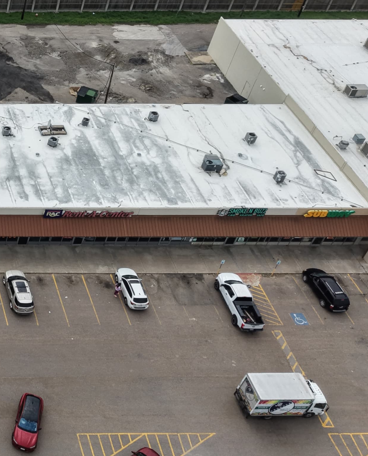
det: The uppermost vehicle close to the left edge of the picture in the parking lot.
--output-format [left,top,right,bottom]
[3,272,38,317]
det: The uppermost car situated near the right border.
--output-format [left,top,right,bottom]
[299,271,354,316]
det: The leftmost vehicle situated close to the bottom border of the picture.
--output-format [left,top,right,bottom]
[11,394,45,454]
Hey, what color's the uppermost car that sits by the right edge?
black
